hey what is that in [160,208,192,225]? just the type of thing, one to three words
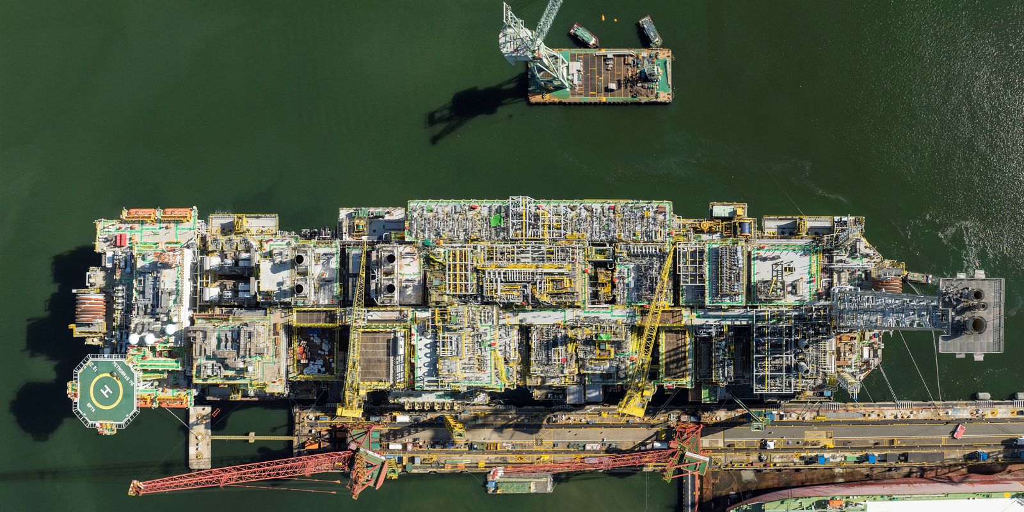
boat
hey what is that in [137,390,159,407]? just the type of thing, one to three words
boat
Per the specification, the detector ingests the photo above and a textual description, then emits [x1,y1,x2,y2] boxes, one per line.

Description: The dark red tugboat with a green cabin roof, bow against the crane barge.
[566,21,598,48]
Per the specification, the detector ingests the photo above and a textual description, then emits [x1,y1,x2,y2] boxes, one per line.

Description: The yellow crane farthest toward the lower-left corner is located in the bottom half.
[339,239,371,415]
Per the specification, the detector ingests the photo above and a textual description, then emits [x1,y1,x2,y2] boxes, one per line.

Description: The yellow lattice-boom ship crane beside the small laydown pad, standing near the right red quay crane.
[622,243,676,420]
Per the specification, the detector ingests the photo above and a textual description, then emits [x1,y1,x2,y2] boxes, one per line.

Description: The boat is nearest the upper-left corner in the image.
[124,208,156,225]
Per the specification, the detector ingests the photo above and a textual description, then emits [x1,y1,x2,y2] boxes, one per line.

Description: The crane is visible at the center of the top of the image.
[500,0,570,97]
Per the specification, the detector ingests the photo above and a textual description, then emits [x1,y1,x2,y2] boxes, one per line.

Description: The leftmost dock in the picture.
[188,406,214,470]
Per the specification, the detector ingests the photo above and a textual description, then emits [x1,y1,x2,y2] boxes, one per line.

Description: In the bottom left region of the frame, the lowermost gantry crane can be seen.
[127,426,390,500]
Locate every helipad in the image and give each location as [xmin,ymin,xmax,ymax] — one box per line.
[67,354,156,434]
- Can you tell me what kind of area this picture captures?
port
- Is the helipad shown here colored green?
Yes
